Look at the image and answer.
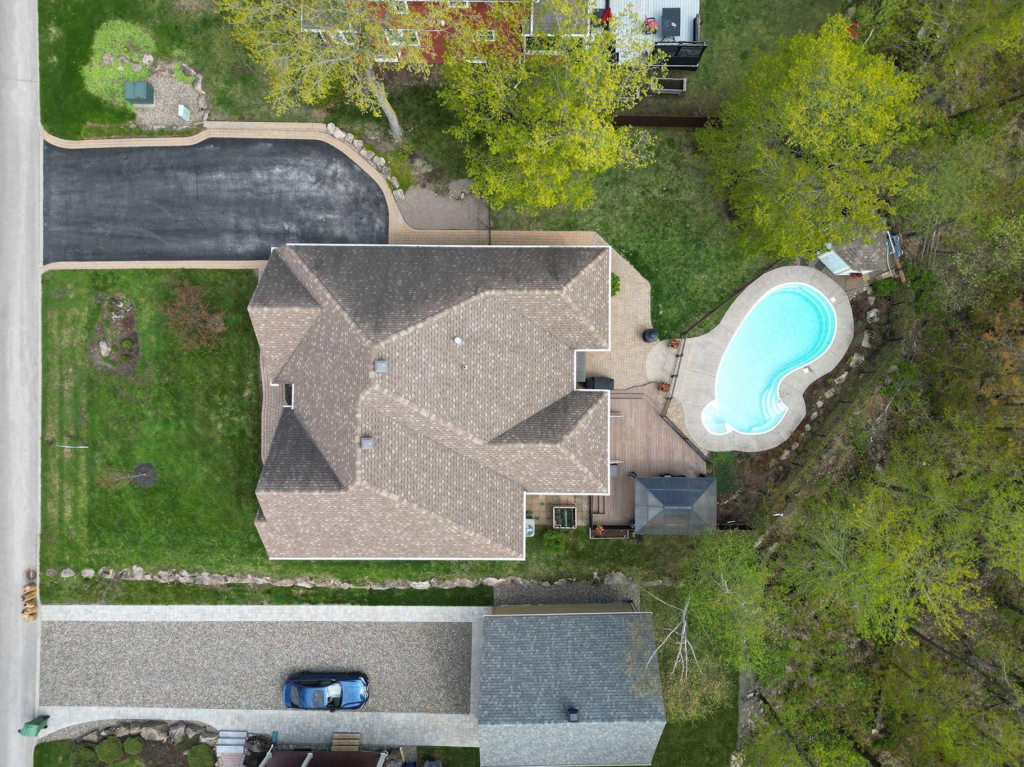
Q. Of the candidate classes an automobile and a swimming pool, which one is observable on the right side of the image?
swimming pool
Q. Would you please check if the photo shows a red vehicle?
No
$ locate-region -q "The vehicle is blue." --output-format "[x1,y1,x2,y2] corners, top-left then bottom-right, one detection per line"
[281,673,367,716]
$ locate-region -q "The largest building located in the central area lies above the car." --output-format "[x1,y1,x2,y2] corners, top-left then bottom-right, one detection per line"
[247,244,612,561]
